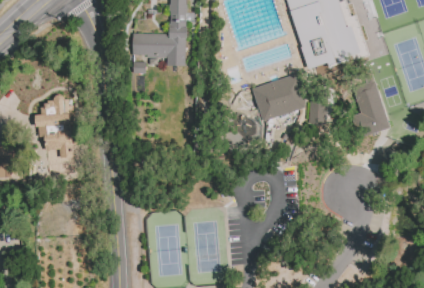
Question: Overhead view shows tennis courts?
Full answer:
Yes, the frame does contain a tennis court.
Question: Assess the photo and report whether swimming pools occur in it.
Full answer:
Yes, I can see a swimming pool in this picture.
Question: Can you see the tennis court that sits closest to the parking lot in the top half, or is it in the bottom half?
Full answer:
You can find the tennis court that sits closest to the parking lot in the bottom half.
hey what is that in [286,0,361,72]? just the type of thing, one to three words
building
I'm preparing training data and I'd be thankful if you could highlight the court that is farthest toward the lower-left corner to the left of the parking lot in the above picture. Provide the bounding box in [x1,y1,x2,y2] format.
[148,210,188,288]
